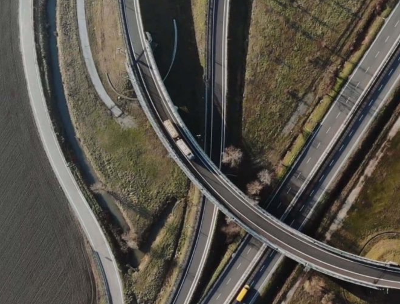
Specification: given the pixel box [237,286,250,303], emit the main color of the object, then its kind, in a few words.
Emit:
yellow vehicle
